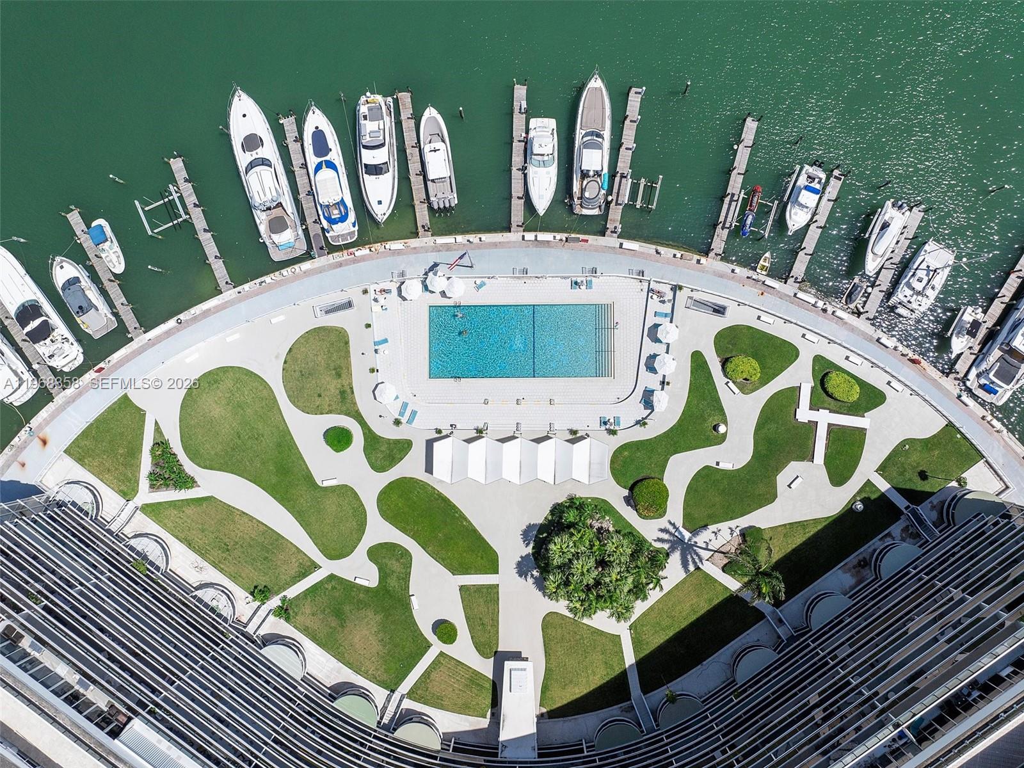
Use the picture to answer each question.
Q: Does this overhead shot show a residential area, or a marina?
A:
marina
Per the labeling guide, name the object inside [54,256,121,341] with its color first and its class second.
white boat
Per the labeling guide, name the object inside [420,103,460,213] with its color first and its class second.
white boat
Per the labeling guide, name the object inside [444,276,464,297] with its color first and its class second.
white umbrella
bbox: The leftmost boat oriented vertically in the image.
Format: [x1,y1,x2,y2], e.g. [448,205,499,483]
[0,327,39,410]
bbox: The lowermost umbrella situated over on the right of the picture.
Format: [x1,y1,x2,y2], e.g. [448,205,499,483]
[649,391,670,412]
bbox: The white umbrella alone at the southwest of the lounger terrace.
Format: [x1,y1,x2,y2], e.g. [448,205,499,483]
[375,382,397,404]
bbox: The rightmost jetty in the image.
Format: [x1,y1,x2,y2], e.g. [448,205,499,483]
[947,242,1024,381]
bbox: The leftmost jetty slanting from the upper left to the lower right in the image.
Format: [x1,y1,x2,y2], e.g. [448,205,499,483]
[0,299,64,402]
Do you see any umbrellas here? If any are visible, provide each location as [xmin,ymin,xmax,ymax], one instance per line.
[401,278,424,301]
[444,276,464,297]
[375,382,397,404]
[649,391,670,412]
[656,322,678,344]
[426,271,447,292]
[655,353,676,375]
